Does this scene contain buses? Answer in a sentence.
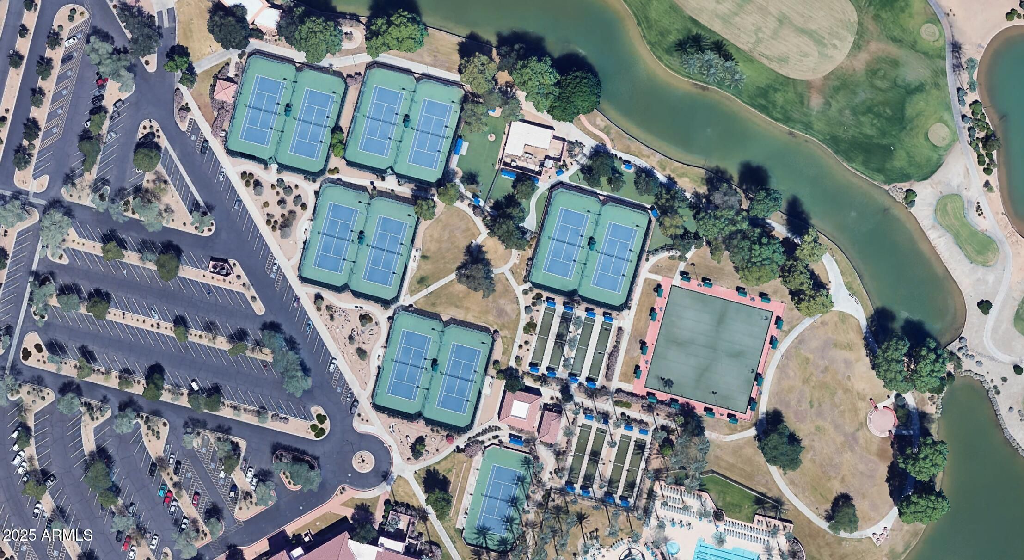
No, this view has no bus in it.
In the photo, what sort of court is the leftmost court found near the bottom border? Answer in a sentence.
The leftmost court found near the bottom border is a tennis court.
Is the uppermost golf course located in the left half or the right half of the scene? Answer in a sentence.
It is on the right.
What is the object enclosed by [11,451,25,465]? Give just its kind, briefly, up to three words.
car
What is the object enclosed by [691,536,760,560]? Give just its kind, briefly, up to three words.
swimming pool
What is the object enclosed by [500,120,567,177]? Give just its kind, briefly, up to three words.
building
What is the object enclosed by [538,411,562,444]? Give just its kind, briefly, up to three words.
building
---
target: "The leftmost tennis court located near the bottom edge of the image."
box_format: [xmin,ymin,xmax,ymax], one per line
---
[463,447,535,553]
